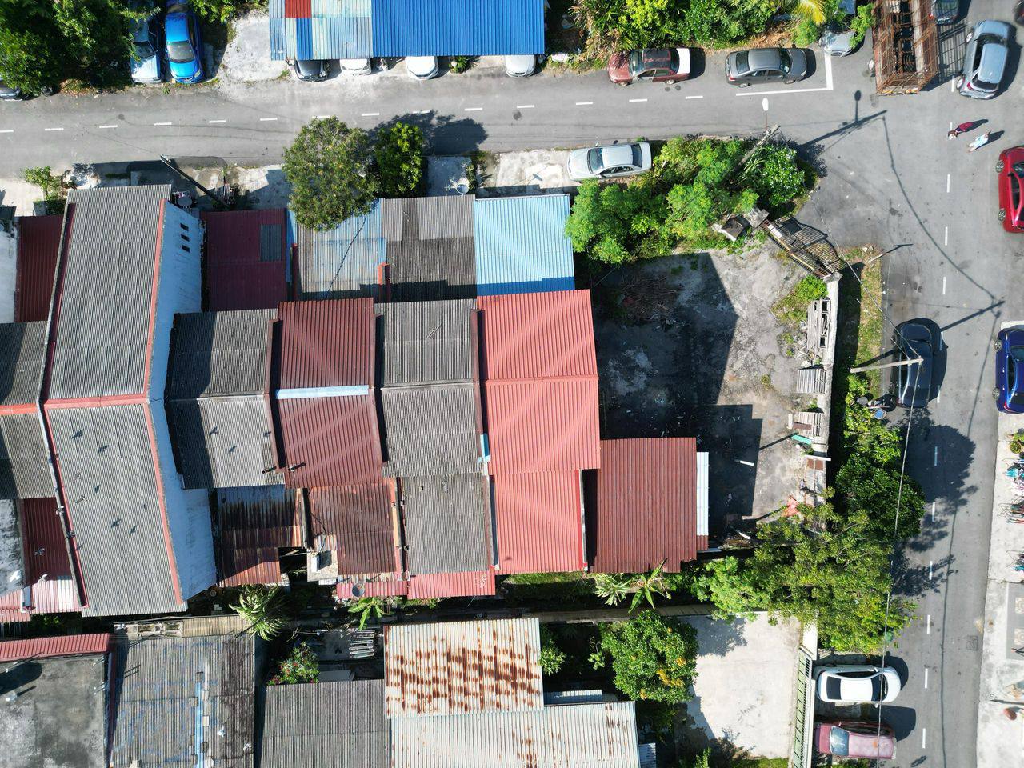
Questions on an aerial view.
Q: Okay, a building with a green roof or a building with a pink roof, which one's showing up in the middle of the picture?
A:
building with a pink roof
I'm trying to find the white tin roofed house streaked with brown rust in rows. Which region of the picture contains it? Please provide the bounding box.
[383,612,657,768]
